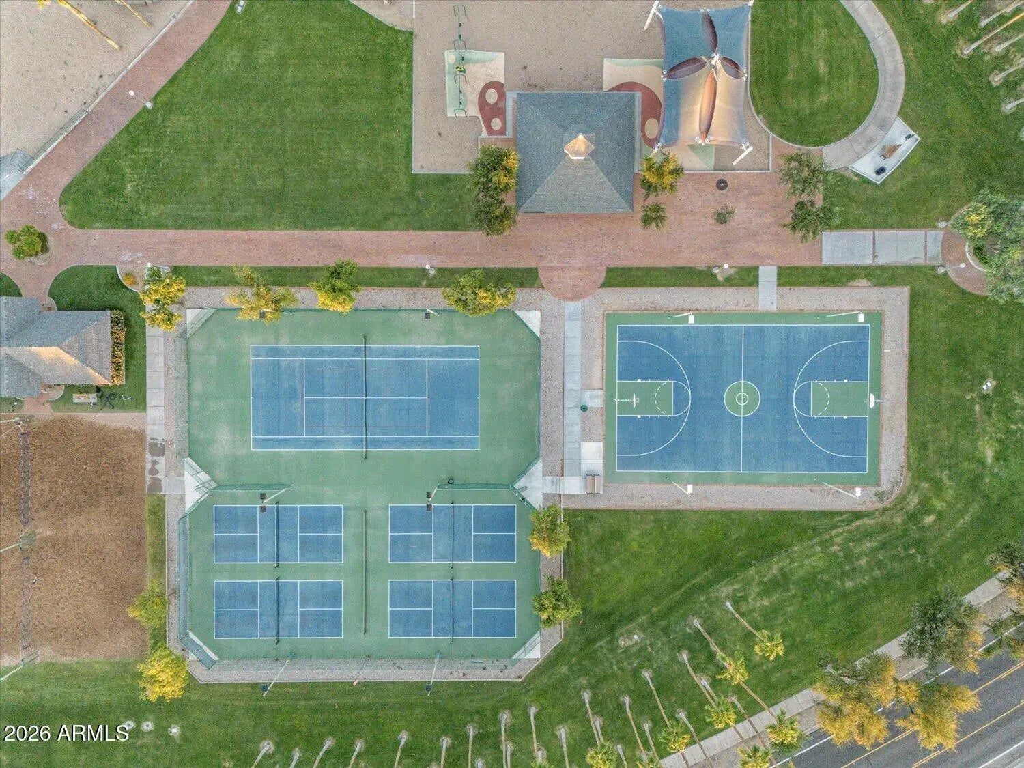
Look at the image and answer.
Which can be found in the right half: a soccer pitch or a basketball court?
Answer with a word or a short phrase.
basketball court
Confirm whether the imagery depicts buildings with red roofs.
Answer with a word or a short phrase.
No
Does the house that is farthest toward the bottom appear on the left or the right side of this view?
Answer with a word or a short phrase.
left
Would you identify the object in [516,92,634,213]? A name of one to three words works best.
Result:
building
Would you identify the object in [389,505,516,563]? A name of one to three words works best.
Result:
sports court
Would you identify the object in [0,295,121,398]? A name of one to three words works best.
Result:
house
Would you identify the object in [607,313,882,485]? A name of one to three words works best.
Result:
basketball court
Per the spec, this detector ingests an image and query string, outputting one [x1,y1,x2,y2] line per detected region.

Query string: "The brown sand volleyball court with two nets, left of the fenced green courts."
[0,416,148,666]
